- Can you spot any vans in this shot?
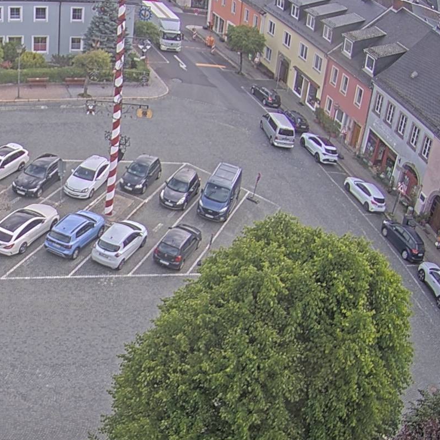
Yes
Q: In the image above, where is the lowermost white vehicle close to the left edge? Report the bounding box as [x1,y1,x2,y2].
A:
[0,204,58,258]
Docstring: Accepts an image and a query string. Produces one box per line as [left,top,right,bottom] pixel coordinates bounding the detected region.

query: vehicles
[250,84,284,107]
[383,219,427,263]
[45,211,106,259]
[200,168,241,222]
[152,224,203,271]
[0,142,28,179]
[161,167,201,210]
[256,113,297,147]
[0,204,58,258]
[94,223,147,269]
[280,108,316,135]
[300,133,339,164]
[420,264,440,305]
[10,150,69,197]
[346,179,386,212]
[120,152,163,193]
[143,0,185,47]
[63,157,109,198]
